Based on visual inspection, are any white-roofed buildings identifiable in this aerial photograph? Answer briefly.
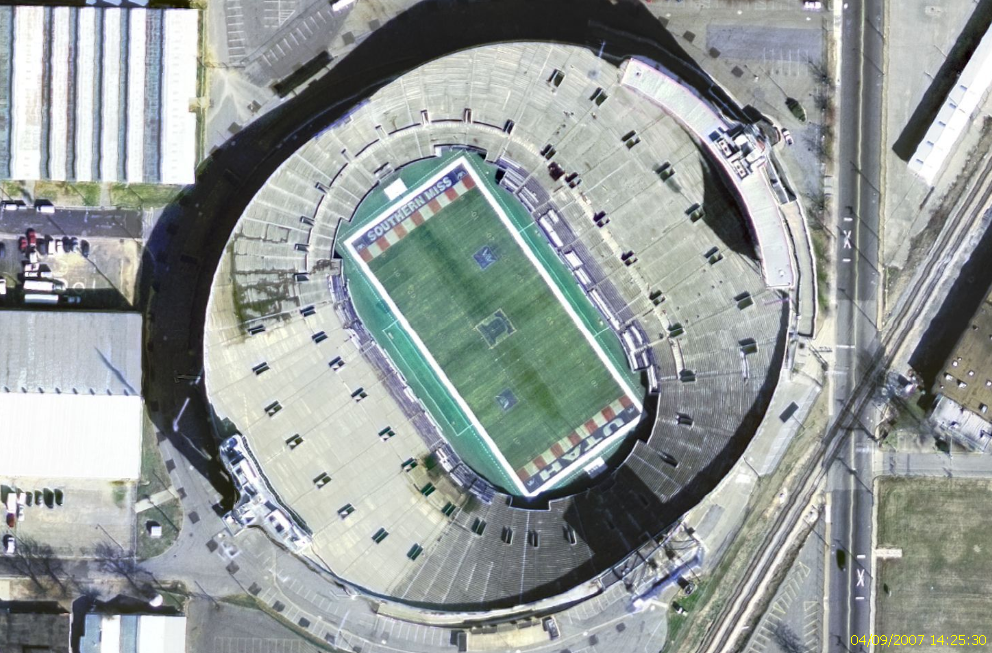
Yes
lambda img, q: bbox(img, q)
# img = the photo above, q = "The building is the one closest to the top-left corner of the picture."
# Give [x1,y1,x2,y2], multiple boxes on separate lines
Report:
[0,8,199,187]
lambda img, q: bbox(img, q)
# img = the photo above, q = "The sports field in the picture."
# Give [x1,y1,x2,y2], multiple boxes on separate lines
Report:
[333,146,658,510]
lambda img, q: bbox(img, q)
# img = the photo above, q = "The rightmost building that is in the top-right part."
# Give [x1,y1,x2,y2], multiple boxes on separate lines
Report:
[908,24,992,189]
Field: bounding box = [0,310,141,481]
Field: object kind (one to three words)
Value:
warehouse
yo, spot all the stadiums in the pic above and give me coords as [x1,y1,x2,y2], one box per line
[200,38,798,626]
